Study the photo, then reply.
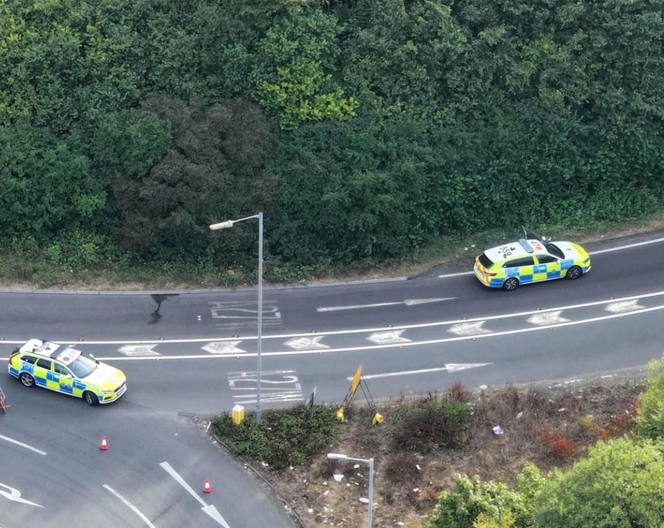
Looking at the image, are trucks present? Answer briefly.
No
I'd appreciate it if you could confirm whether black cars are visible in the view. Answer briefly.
No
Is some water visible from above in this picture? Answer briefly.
No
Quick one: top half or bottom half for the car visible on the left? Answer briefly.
bottom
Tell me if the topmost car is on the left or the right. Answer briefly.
right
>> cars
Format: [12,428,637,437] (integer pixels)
[473,225,591,290]
[7,338,127,405]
